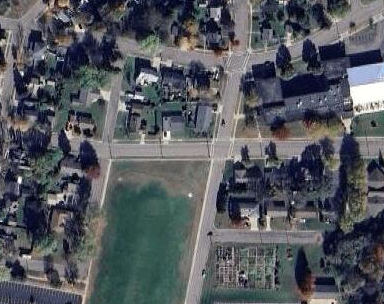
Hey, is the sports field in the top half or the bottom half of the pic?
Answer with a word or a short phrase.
bottom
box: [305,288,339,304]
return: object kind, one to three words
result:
building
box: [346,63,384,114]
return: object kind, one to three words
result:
building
